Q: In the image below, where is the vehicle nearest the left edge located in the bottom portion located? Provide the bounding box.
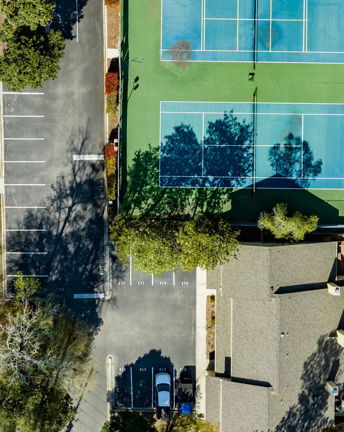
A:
[154,374,173,421]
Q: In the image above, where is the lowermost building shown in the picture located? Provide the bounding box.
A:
[204,373,338,432]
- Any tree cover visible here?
Yes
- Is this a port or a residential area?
residential area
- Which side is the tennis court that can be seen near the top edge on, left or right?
right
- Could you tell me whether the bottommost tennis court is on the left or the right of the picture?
right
